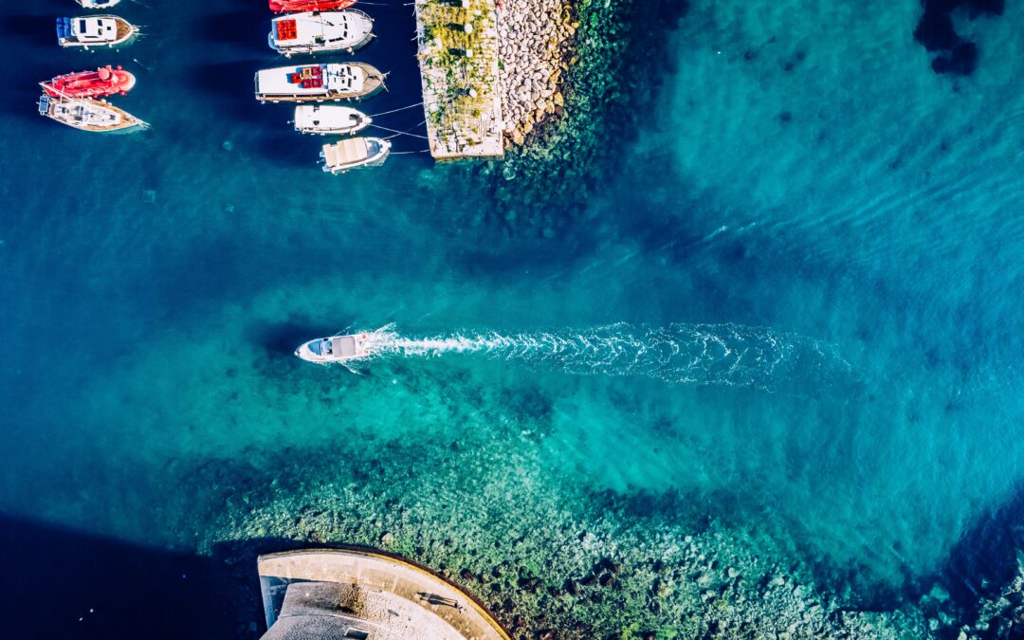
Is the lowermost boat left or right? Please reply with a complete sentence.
The lowermost boat is on the left side of the image.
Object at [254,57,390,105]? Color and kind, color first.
white boat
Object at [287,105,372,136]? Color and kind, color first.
white boat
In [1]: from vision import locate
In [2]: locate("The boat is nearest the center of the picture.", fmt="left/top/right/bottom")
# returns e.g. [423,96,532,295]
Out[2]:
[295,333,374,361]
